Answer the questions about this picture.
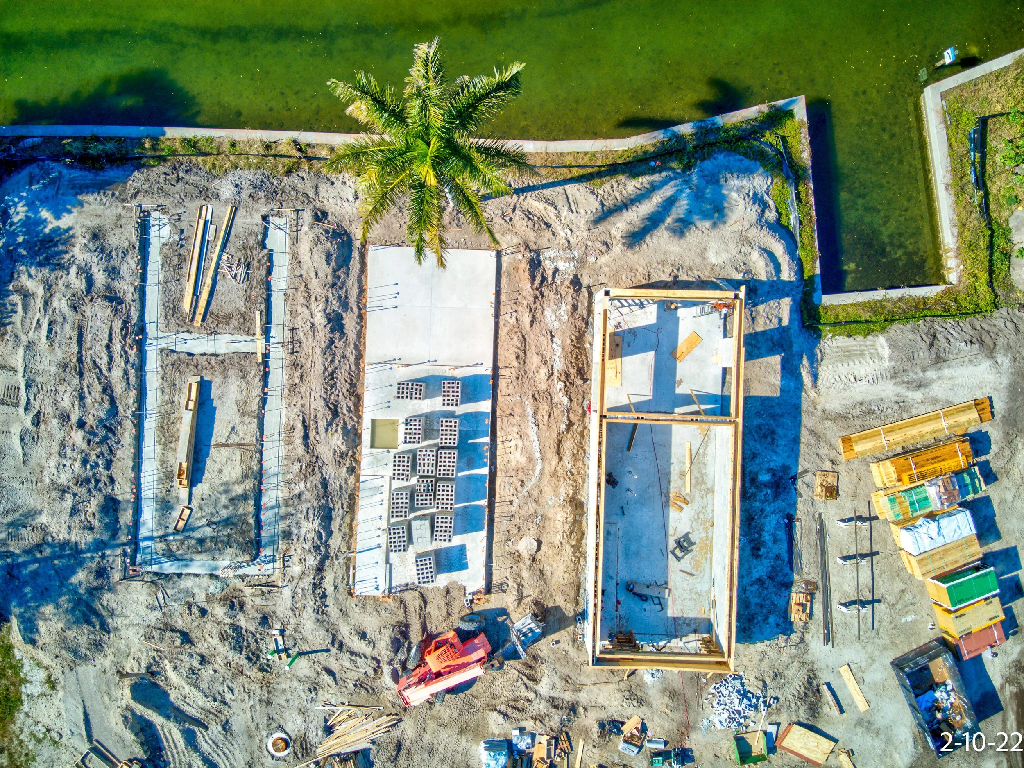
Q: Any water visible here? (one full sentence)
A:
Yes, there's water in this view.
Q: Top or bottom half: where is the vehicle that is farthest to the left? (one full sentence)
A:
Seen from above, the vehicle that is farthest to the left lies in the bottom half of the view.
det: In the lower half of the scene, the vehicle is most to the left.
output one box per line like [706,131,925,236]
[397,609,545,712]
